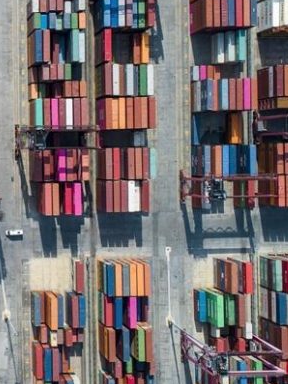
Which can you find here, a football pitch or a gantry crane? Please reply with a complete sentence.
The image shows a gantry crane.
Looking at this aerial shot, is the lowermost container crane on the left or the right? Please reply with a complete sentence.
The lowermost container crane sits on the right side.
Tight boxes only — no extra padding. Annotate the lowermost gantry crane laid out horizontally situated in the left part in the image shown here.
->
[16,123,104,155]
